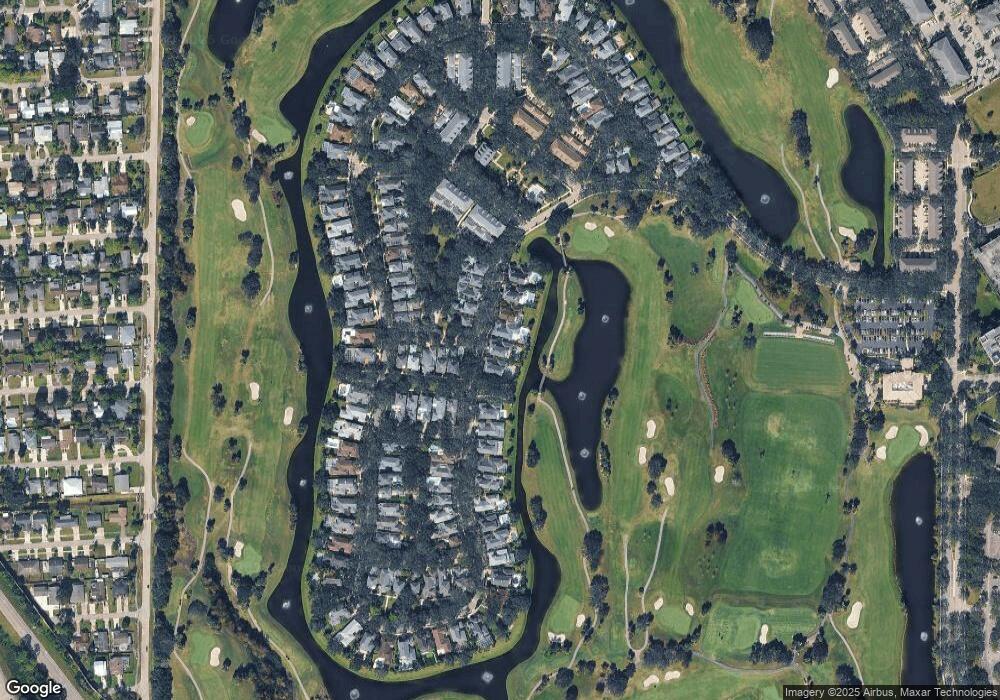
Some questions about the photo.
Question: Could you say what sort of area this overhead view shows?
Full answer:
This image shows a residential area.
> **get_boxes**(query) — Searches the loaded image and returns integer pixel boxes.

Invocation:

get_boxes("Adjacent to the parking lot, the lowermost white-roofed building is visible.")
[883,358,925,405]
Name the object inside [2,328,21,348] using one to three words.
house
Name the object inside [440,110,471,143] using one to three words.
building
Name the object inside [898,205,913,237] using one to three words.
building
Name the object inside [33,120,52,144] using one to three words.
house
